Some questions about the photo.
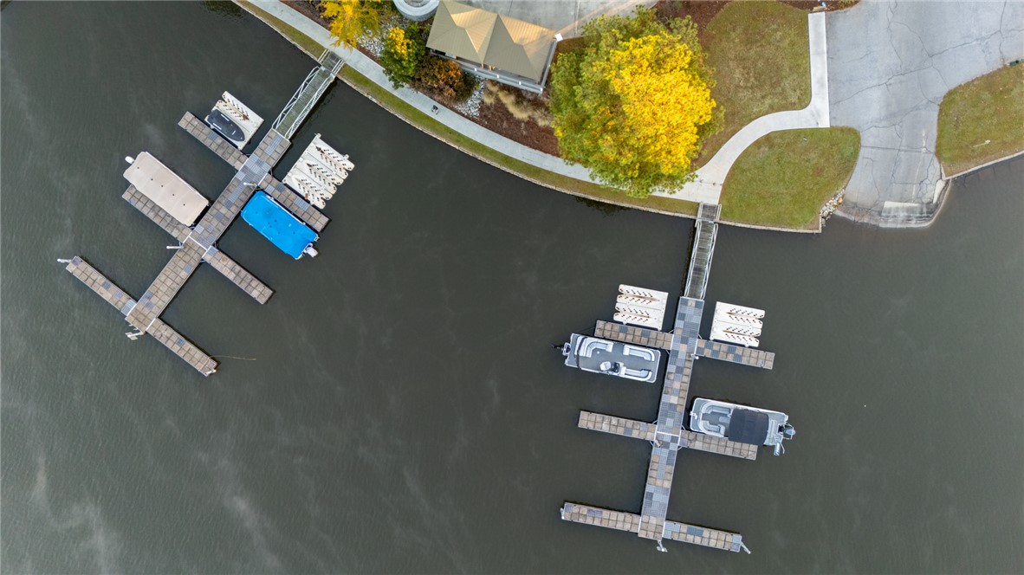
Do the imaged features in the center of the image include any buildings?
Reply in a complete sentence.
No, I see no building in the center of the image.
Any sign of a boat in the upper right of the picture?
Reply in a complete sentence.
No, there is no boat in the upper right of the picture.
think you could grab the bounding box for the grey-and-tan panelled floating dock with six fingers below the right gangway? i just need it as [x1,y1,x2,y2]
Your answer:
[563,296,776,551]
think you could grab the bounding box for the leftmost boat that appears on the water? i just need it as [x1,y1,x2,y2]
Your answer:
[127,153,212,226]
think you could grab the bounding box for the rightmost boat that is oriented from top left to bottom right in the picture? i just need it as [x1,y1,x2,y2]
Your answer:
[243,193,320,262]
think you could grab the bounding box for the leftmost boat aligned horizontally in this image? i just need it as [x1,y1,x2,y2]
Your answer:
[560,334,661,383]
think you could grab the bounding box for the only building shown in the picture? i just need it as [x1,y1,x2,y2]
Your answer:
[428,1,556,90]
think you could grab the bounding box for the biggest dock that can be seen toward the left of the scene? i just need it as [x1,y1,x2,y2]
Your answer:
[66,110,331,377]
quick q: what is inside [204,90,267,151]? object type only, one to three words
pier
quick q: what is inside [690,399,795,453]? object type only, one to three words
boat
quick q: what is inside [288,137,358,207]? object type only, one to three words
pier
